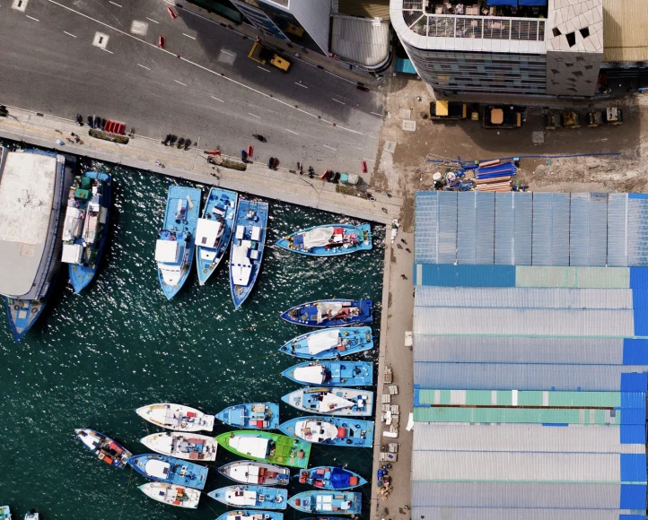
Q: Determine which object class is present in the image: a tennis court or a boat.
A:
boat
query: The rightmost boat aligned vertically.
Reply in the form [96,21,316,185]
[227,199,269,309]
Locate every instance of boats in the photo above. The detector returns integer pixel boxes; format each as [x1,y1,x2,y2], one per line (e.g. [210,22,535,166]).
[227,199,269,309]
[134,403,219,435]
[74,429,134,469]
[287,491,364,516]
[299,466,367,492]
[215,402,282,431]
[136,482,203,511]
[274,222,374,258]
[24,511,41,520]
[207,485,290,512]
[280,387,374,418]
[139,432,220,461]
[217,460,292,487]
[215,431,313,469]
[0,505,15,520]
[125,456,211,491]
[193,186,240,285]
[217,509,286,520]
[278,326,376,359]
[280,360,374,387]
[155,185,202,300]
[278,416,376,447]
[279,299,374,328]
[59,169,120,293]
